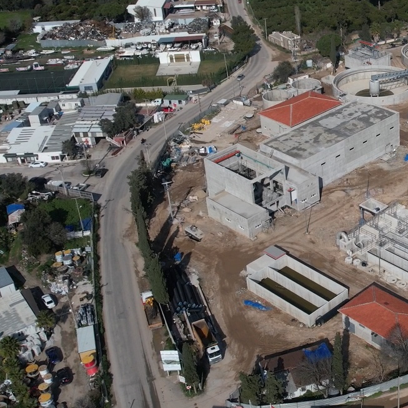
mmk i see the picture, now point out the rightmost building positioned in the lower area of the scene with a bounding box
[333,279,408,359]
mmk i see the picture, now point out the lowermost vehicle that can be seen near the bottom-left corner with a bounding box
[56,365,72,385]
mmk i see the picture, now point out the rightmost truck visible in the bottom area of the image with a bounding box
[188,308,218,358]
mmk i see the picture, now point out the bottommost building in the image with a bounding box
[259,333,329,400]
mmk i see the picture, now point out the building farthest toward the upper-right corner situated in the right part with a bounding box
[345,38,393,74]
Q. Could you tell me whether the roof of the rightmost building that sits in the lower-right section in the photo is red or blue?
red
